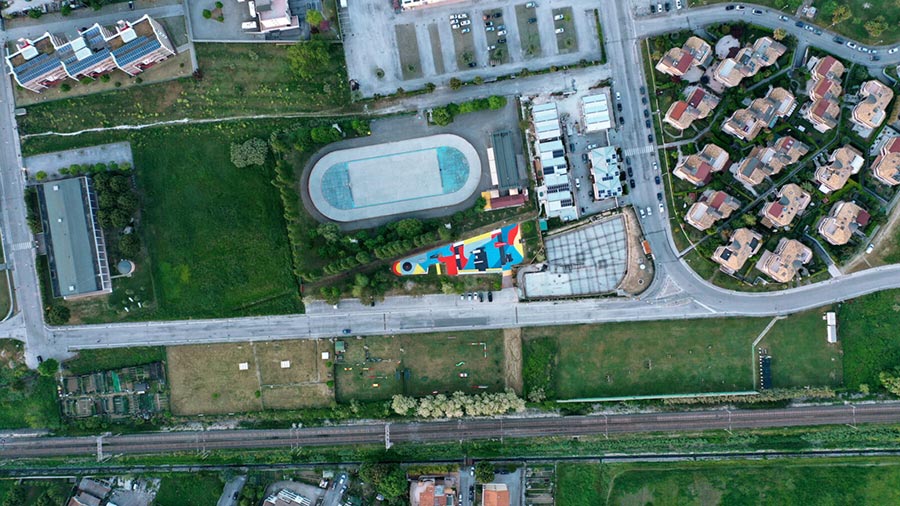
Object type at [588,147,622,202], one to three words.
building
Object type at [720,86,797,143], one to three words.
house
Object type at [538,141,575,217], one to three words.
building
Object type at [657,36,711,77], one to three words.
house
